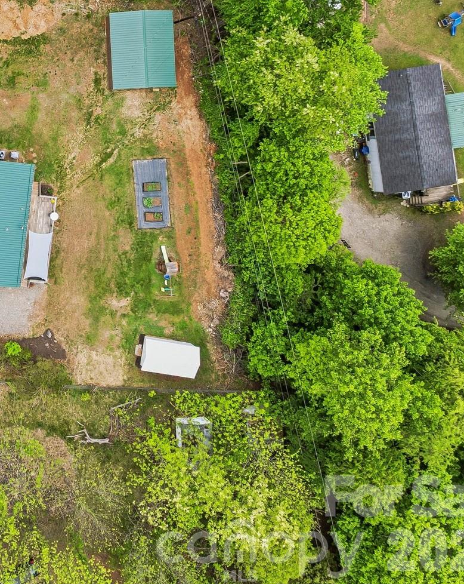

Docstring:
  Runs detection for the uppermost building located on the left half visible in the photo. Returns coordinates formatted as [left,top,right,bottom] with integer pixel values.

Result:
[104,10,177,90]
